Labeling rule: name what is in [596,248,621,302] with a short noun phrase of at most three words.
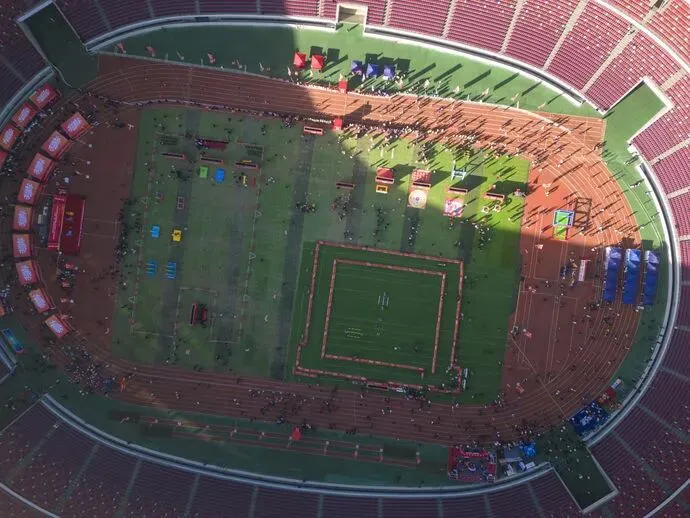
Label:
tent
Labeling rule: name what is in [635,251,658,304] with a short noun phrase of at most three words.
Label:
tent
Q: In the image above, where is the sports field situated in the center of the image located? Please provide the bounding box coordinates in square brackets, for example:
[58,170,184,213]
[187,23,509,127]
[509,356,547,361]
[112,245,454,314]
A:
[111,107,530,407]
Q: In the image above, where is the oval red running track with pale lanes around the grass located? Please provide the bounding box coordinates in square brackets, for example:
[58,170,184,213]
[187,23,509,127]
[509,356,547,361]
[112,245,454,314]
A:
[4,53,644,465]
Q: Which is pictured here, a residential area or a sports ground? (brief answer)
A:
sports ground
